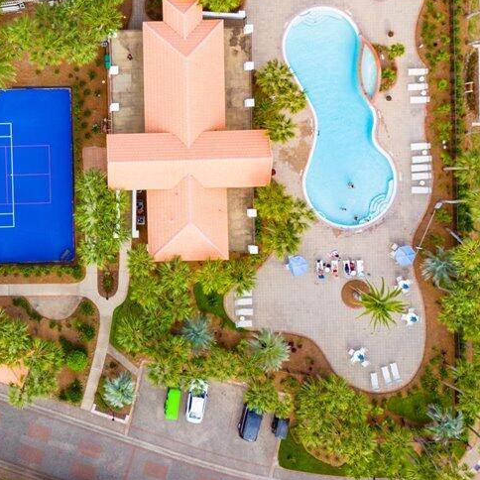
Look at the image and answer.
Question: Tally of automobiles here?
four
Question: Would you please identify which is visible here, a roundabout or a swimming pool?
swimming pool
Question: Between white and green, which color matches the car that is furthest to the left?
green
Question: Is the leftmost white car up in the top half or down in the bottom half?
bottom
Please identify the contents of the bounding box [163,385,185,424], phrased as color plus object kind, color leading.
green car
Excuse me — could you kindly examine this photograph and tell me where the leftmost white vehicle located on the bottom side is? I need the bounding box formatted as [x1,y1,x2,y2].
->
[186,381,210,429]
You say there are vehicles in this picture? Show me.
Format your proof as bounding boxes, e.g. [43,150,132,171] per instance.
[186,381,210,429]
[272,410,294,447]
[163,385,185,424]
[239,400,267,447]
